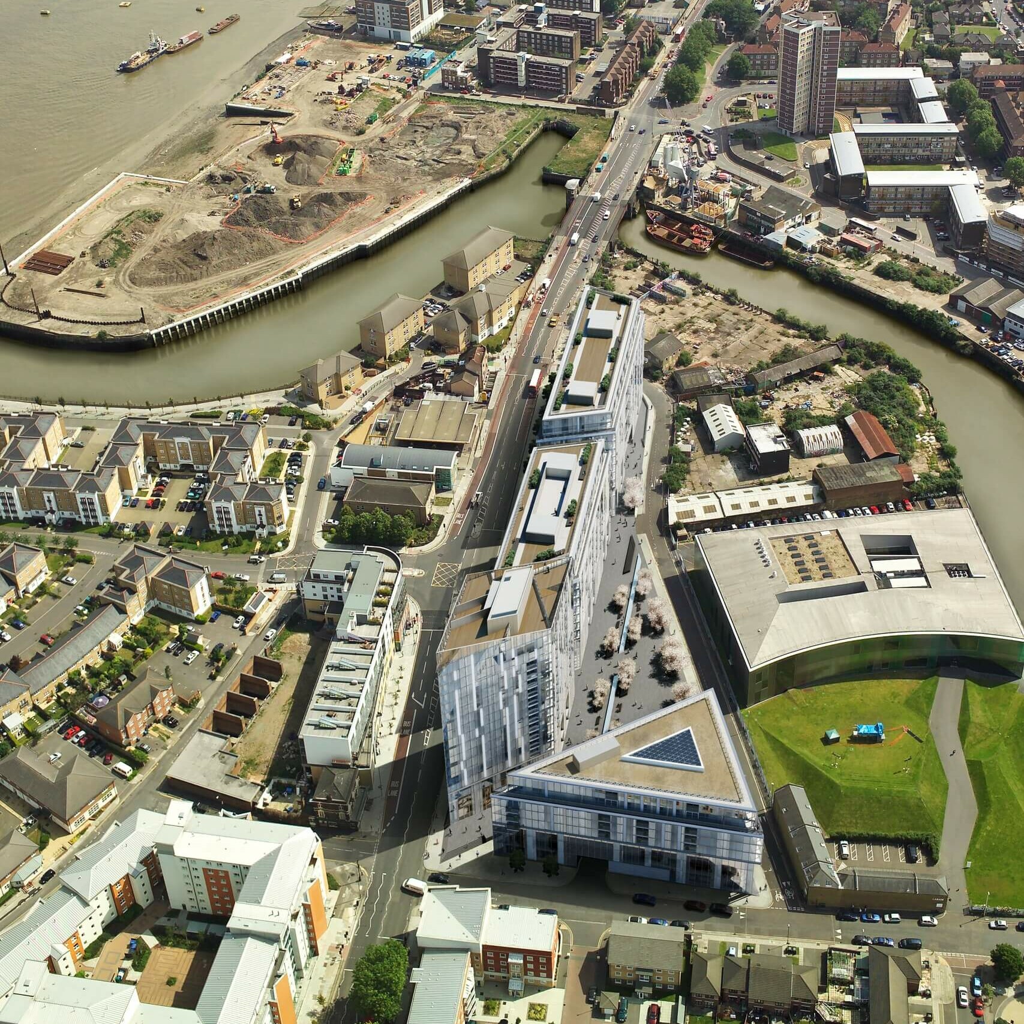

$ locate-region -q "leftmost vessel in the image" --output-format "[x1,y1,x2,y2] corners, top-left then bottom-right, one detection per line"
[116,27,175,73]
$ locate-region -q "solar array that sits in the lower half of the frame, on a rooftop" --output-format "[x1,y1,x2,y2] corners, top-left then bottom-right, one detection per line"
[628,731,699,768]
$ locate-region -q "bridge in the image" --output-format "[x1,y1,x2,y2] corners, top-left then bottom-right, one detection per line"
[549,159,646,249]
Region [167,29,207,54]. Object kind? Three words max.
vessel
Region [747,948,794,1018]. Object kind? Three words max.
house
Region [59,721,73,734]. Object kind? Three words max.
vehicle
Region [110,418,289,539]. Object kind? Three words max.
building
